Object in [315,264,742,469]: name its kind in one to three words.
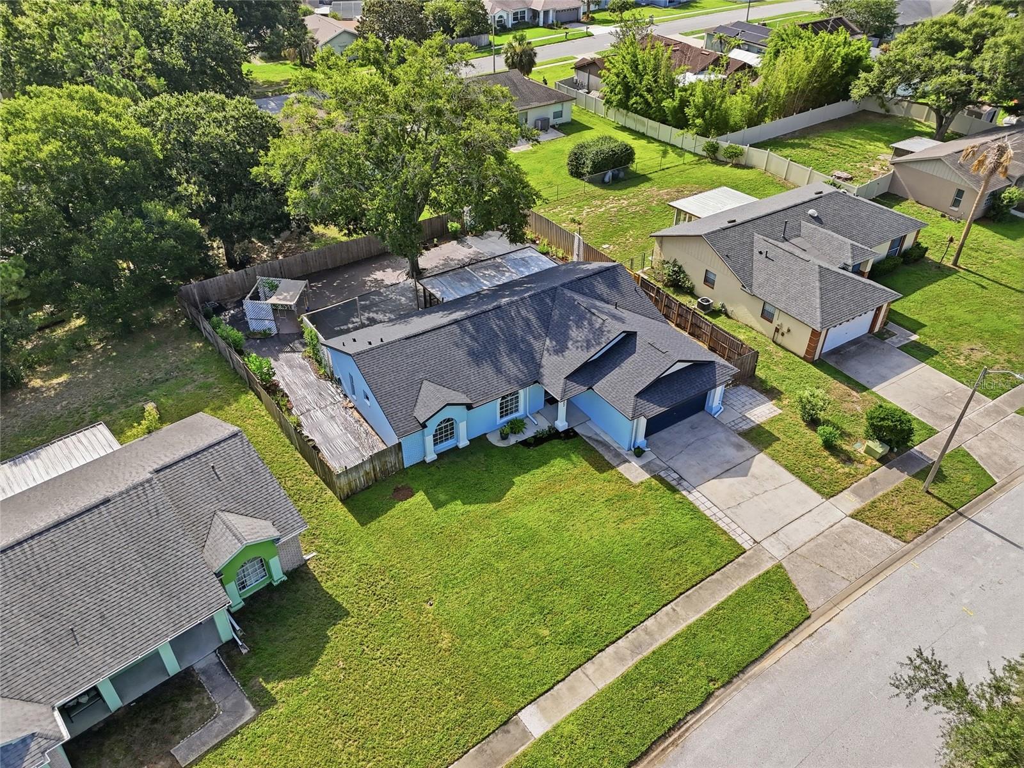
house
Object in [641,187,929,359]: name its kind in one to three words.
house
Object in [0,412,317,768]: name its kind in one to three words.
building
